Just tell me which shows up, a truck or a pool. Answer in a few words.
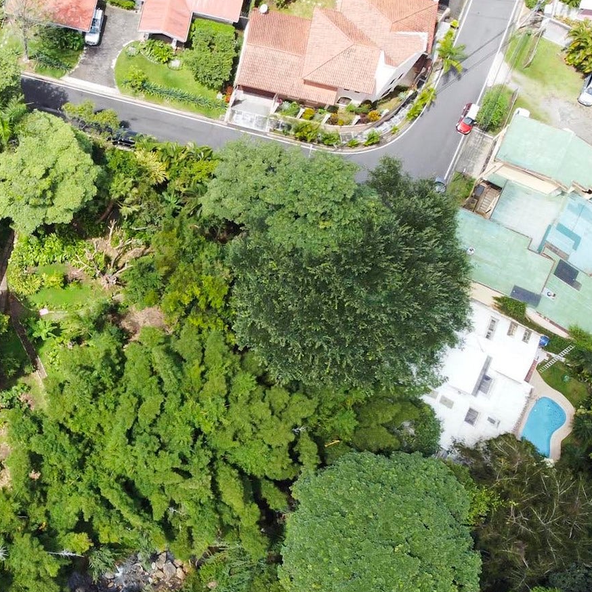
pool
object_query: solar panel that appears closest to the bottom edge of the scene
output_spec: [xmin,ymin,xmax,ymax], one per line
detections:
[510,286,541,306]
